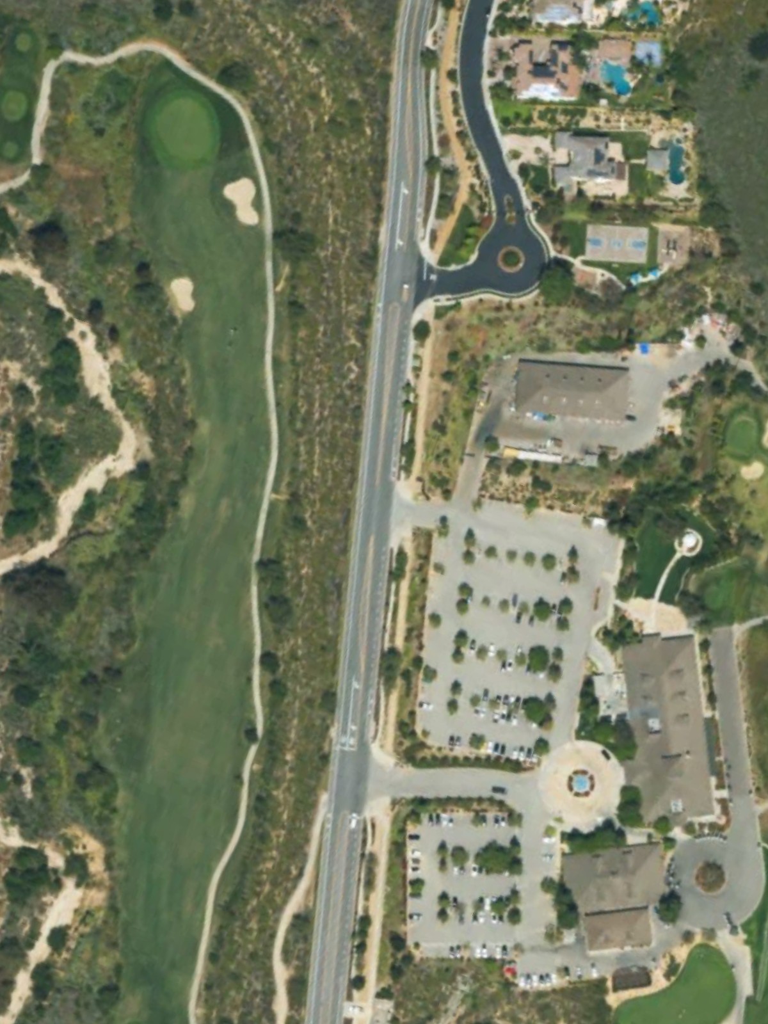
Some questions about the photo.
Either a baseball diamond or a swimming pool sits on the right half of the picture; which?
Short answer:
swimming pool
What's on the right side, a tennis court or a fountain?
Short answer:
fountain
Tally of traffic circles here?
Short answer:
three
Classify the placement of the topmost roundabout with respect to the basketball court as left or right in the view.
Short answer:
left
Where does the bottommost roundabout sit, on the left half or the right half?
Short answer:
right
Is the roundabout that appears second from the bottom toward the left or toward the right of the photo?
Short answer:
right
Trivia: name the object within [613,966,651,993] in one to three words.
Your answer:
shed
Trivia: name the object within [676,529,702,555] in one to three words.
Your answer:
gazebo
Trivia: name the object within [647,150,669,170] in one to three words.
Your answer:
building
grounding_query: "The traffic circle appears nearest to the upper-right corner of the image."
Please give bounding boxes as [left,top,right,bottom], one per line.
[483,230,540,287]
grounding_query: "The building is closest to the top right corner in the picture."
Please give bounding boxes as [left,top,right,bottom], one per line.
[635,41,662,66]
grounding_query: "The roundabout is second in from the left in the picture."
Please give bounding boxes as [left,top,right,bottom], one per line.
[538,740,624,826]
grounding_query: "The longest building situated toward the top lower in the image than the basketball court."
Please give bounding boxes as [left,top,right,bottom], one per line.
[516,362,629,421]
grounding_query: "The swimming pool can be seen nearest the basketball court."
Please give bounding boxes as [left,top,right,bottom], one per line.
[669,142,685,185]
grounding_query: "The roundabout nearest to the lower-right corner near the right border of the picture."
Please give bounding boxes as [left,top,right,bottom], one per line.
[667,812,765,932]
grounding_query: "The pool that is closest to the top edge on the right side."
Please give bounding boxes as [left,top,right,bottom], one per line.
[629,0,660,26]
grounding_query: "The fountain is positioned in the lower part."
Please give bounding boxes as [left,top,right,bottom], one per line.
[567,770,595,797]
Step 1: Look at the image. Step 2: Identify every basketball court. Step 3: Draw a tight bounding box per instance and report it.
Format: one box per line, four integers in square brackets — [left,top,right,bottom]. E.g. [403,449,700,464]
[586,225,648,264]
